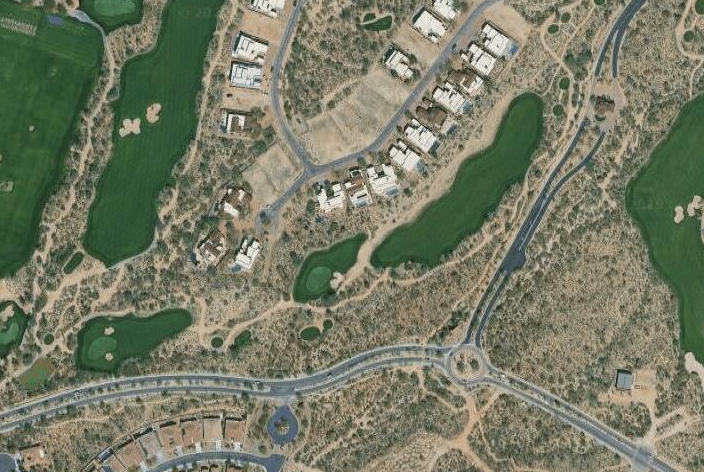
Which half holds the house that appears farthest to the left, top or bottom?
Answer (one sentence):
Seen from above, the house that appears farthest to the left lies in the bottom half of the view.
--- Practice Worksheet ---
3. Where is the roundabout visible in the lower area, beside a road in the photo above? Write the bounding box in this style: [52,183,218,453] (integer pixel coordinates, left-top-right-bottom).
[442,342,489,386]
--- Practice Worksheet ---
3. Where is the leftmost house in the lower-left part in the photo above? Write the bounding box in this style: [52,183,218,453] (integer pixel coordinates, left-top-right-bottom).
[22,445,46,469]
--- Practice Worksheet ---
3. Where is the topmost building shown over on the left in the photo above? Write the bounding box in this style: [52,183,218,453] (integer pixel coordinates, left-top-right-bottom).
[253,0,284,18]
